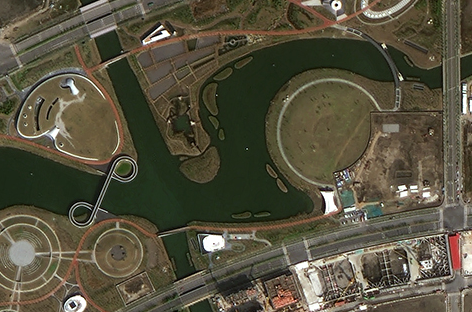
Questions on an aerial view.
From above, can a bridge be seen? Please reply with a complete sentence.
Yes, you can see a bridge in this photo.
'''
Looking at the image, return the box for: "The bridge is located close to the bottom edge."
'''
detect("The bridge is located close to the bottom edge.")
[168,271,216,310]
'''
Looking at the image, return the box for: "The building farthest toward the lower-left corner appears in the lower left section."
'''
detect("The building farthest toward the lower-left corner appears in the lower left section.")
[64,295,87,312]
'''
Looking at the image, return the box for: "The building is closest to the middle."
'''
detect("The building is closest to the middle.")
[201,234,227,252]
